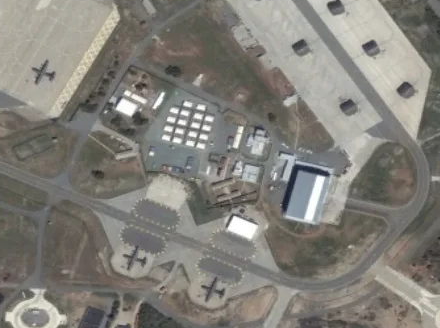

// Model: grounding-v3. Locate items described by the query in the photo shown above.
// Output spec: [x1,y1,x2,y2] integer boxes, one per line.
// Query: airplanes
[33,59,53,84]
[124,244,145,269]
[202,276,223,301]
